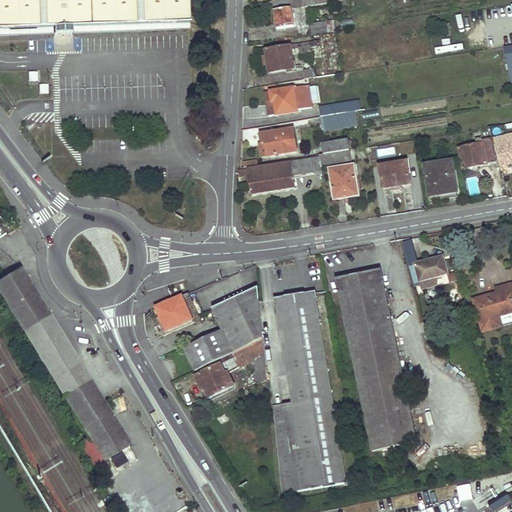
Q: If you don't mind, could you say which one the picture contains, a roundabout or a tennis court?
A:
roundabout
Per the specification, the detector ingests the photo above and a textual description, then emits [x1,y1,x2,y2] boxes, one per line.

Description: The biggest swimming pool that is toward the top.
[466,176,481,196]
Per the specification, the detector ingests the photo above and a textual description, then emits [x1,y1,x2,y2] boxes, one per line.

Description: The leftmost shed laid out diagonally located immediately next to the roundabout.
[0,266,128,460]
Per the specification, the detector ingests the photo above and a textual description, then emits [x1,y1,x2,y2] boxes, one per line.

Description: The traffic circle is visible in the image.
[48,208,196,319]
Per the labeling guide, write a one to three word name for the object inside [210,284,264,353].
building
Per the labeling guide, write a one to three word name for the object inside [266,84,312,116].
house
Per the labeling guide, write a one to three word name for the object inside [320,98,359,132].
shed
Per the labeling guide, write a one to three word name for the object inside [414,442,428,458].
vehicle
